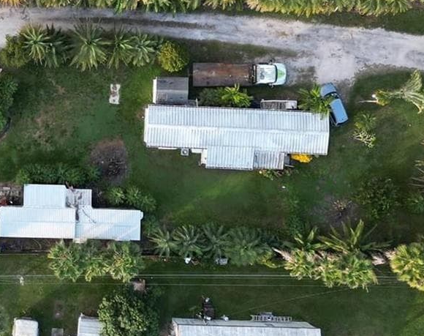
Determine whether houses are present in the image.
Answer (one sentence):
Yes, I can see a house in this picture.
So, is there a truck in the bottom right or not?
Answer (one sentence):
No, there is no truck in the bottom right.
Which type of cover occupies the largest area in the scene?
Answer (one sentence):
The largest share of the image is taken up by grass.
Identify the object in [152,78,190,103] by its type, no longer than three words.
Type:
shed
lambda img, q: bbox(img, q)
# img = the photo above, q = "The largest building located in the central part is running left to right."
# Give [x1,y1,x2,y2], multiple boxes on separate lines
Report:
[143,104,331,168]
